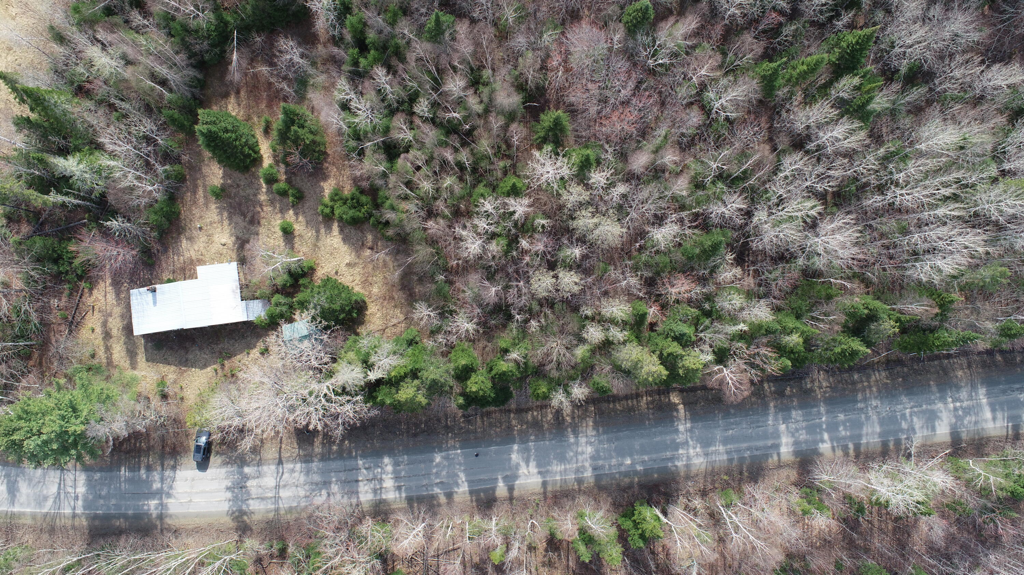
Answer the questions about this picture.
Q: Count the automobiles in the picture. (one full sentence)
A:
In total, there is 1 automobile in the scene.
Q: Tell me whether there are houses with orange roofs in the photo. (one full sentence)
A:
No, the scene contains no house with an orange roof.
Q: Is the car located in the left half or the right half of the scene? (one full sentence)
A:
It is on the left.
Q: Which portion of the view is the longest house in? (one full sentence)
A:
The longest house is in the left part of the image.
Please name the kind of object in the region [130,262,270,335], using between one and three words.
house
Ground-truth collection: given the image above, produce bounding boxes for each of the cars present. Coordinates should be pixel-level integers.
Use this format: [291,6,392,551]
[193,428,214,463]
